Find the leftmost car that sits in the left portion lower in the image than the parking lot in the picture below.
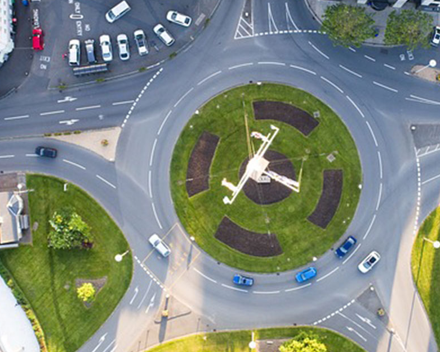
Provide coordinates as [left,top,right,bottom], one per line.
[34,145,58,158]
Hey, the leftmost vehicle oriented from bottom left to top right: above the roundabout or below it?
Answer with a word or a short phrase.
above it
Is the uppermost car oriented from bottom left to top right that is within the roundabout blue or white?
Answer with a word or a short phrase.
blue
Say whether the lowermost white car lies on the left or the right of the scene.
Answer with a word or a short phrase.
right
